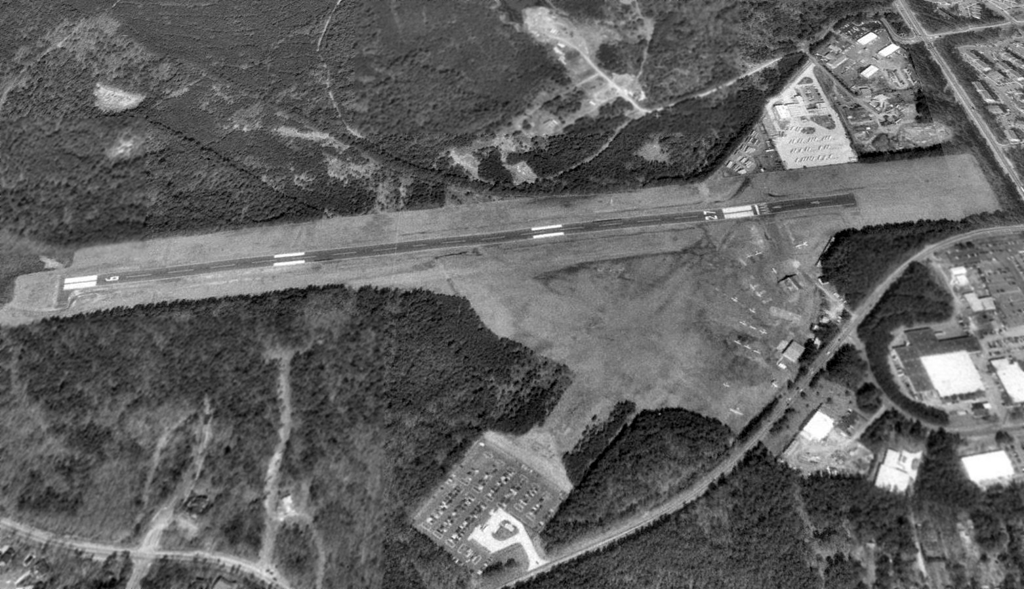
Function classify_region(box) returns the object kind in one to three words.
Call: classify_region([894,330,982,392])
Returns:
building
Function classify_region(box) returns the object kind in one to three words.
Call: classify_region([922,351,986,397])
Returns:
building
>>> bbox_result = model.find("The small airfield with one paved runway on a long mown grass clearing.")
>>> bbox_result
[0,154,1002,490]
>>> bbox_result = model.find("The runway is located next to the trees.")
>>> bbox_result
[59,193,854,305]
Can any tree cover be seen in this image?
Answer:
Yes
